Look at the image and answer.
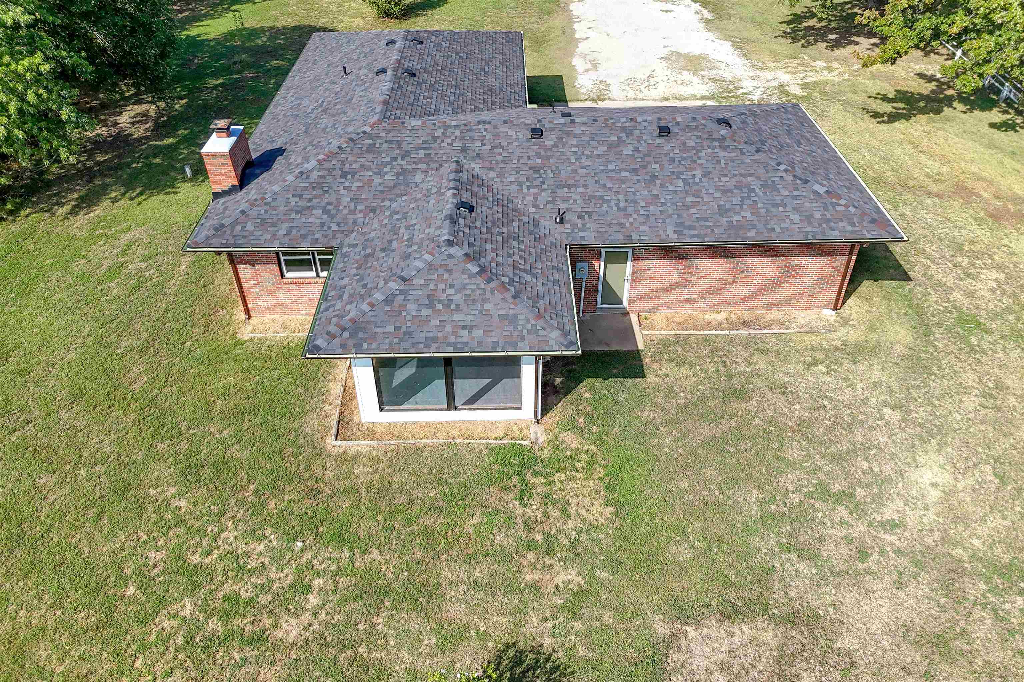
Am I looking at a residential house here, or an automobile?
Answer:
residential house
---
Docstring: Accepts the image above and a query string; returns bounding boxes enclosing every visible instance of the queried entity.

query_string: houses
[182,30,910,425]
